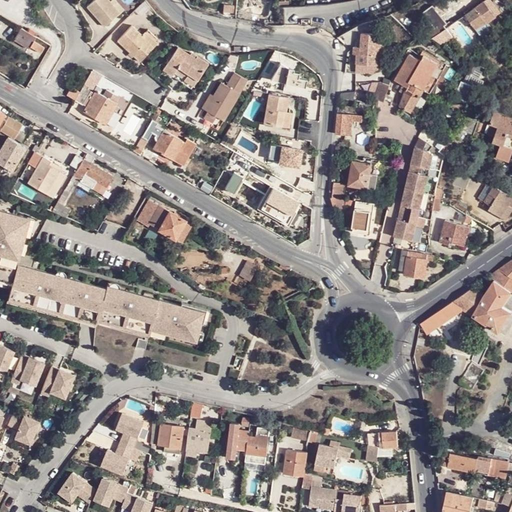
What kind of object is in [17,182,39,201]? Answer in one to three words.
swimming pool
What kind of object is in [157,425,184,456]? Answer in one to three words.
house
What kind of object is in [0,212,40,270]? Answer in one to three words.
building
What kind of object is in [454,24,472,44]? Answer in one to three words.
swimming pool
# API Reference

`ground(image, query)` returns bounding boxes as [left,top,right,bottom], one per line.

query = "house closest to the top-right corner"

[465,0,498,32]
